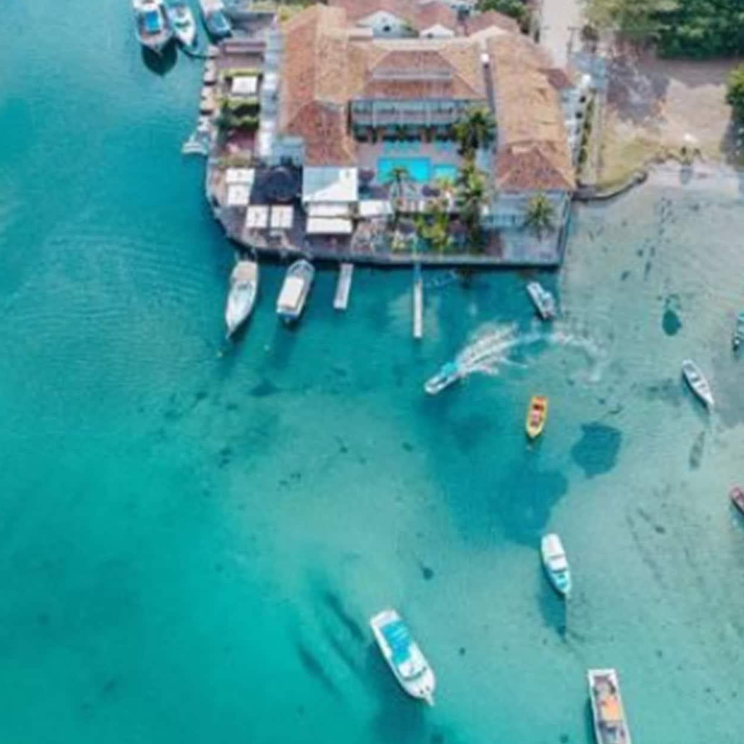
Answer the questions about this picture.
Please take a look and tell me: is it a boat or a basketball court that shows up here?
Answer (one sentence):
There is a boat in the scene.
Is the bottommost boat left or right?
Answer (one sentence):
It is on the right.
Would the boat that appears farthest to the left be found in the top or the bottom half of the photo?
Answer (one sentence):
The boat that appears farthest to the left is in the top half of the image.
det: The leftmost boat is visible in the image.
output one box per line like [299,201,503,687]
[129,0,169,59]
